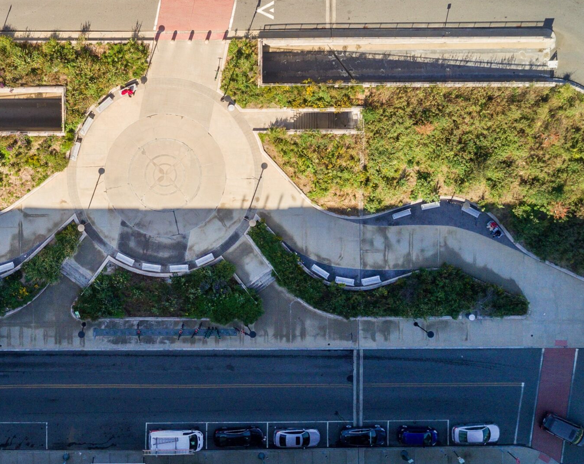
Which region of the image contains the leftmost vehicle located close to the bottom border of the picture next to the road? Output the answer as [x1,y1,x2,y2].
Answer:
[147,428,202,460]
